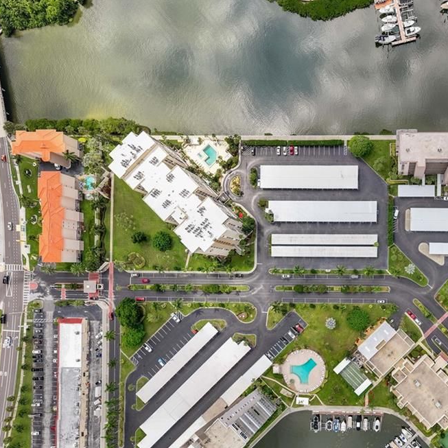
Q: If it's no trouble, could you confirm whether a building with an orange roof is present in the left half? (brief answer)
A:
Yes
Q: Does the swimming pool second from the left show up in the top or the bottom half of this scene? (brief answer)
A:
top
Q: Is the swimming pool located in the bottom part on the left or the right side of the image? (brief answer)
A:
right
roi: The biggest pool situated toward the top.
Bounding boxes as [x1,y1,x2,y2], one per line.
[185,139,232,174]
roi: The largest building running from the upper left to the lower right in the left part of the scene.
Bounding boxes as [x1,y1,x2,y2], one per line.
[108,131,247,257]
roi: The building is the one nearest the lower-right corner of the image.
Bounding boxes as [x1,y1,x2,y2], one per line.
[390,354,448,430]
